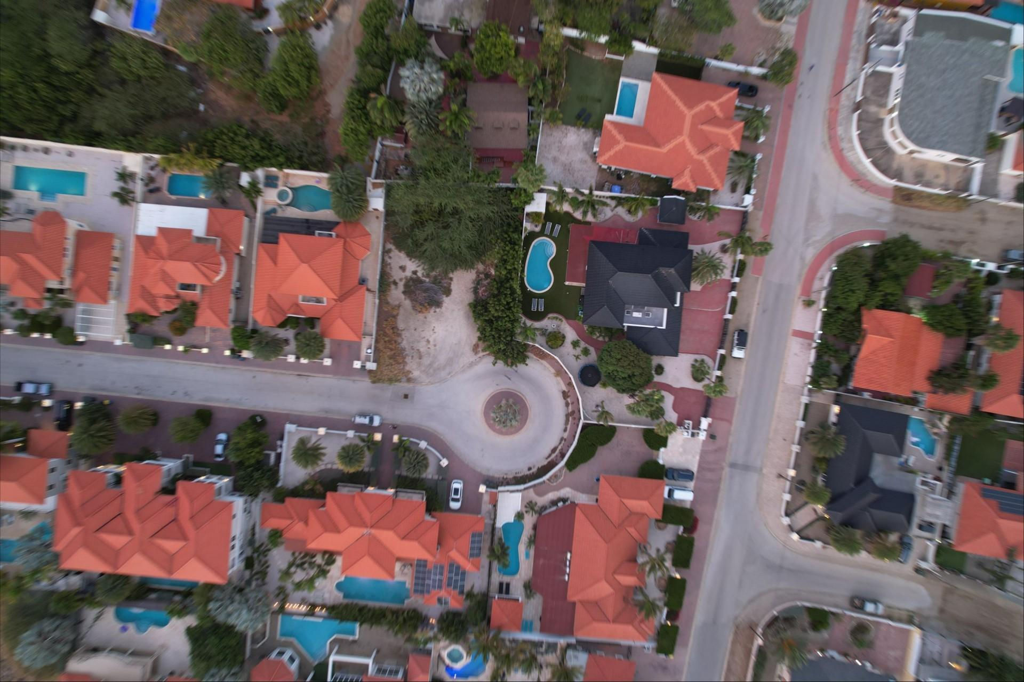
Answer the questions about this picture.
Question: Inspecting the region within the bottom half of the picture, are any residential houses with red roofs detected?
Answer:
Yes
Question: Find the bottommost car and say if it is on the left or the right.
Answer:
right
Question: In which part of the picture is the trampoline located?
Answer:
center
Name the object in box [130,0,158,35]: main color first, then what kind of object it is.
blue swimming pool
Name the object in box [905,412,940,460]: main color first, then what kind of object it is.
blue swimming pool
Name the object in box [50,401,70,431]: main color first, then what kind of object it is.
black car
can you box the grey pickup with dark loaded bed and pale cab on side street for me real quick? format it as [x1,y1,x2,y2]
[851,596,888,617]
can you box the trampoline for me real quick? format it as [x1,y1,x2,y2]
[578,364,603,387]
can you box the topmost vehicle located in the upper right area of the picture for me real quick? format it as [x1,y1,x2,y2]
[729,78,761,97]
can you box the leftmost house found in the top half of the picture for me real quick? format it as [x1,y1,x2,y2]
[0,212,96,310]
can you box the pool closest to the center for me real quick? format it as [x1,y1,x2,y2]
[524,237,556,293]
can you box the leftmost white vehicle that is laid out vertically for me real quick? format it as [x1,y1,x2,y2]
[448,480,463,511]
